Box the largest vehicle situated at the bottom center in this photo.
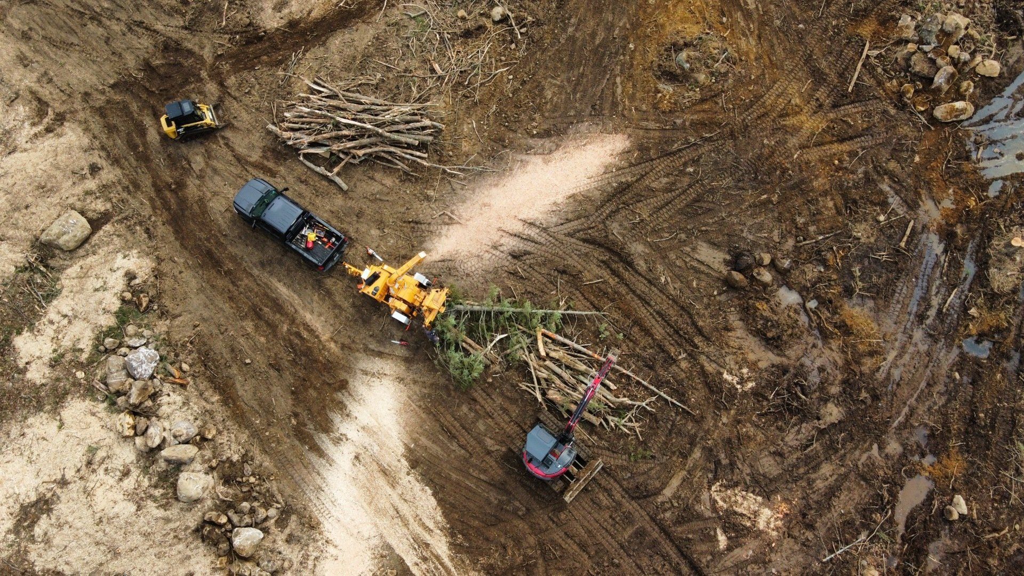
[512,345,623,502]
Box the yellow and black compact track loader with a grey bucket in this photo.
[161,100,233,144]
